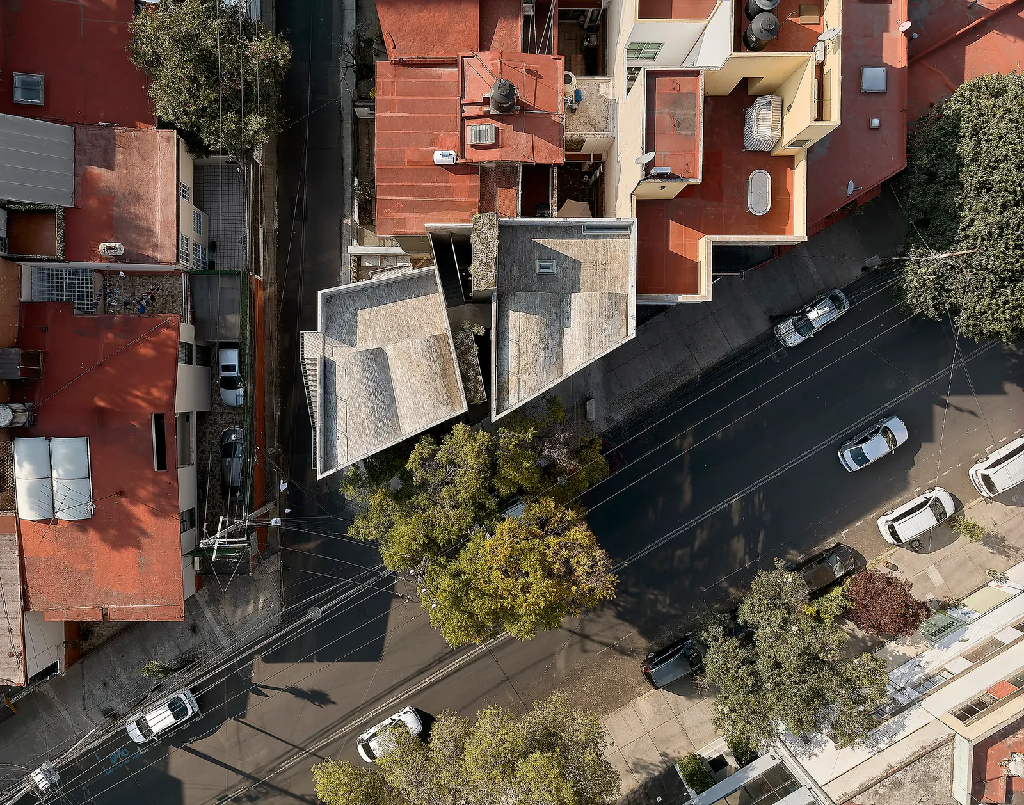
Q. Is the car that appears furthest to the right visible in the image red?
No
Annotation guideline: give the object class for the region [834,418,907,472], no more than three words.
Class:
car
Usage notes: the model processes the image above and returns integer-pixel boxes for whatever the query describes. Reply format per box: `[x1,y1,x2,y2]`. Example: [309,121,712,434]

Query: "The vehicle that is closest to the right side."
[967,435,1024,495]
